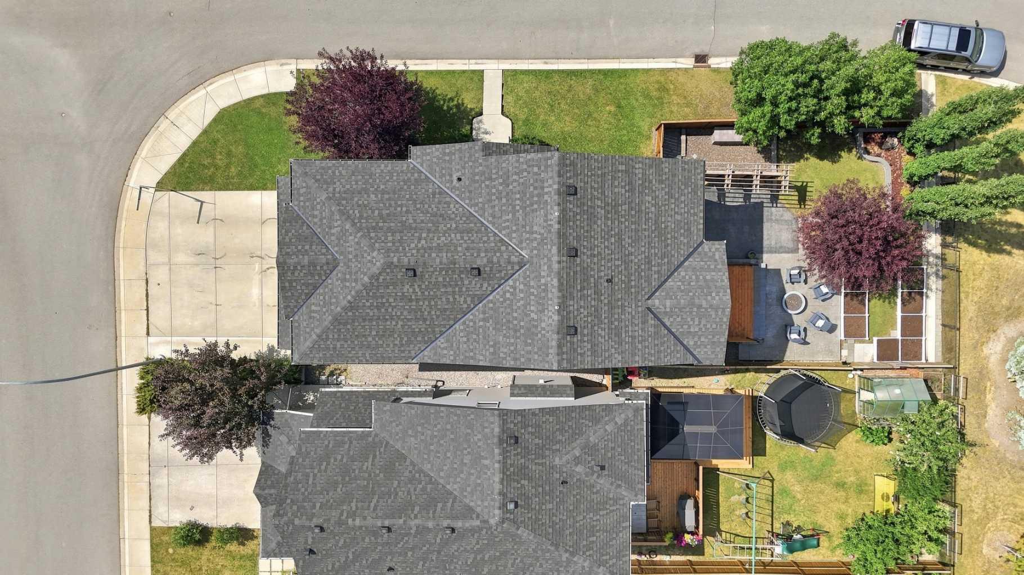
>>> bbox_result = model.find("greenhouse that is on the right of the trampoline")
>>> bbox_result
[855,374,928,418]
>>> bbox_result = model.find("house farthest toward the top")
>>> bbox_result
[274,141,732,371]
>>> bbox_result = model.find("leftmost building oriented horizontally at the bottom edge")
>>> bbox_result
[252,377,652,575]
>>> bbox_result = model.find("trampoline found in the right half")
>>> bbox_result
[752,368,852,456]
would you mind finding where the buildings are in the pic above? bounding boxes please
[252,377,652,575]
[855,374,928,418]
[274,141,732,371]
